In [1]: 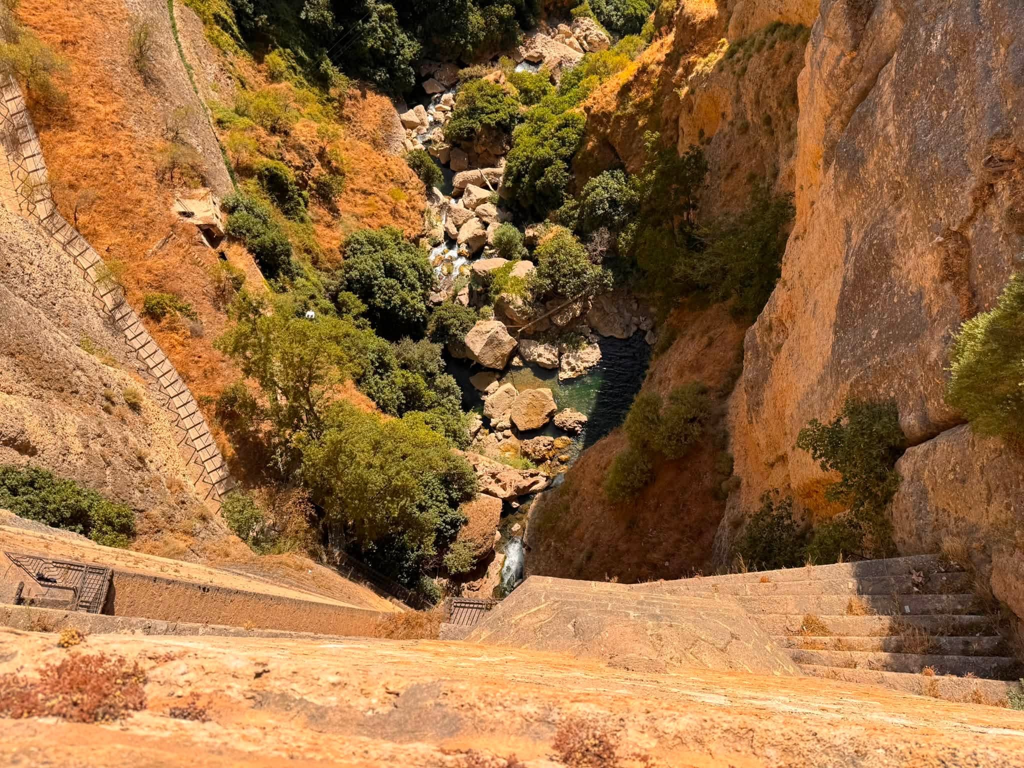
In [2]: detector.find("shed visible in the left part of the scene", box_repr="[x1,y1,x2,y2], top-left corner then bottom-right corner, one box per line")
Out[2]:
[169,192,233,257]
